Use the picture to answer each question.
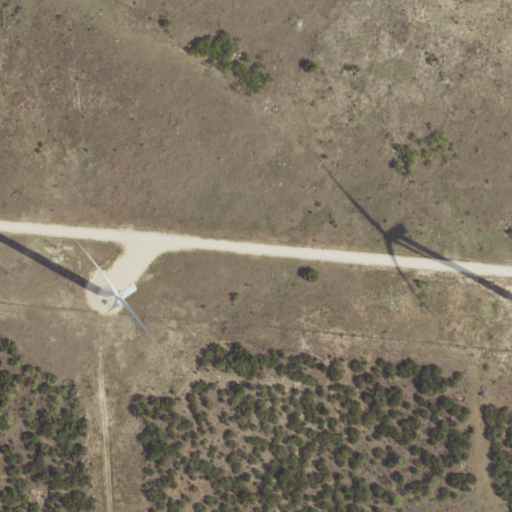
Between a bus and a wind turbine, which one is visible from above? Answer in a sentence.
The one in the frame is a wind turbine.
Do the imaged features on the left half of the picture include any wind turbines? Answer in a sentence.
Yes, a wind turbine appears on the left half of the picture.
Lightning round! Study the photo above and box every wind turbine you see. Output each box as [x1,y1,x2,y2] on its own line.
[66,227,166,359]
